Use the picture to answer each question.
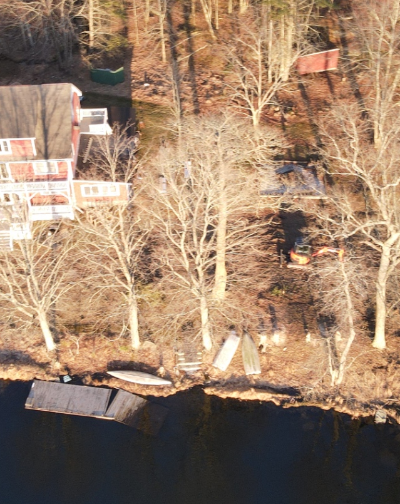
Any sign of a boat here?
Yes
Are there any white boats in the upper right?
No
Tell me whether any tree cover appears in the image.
Yes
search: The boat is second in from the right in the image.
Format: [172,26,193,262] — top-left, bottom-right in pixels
[212,332,241,371]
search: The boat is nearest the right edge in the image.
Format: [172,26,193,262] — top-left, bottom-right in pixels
[241,331,262,375]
